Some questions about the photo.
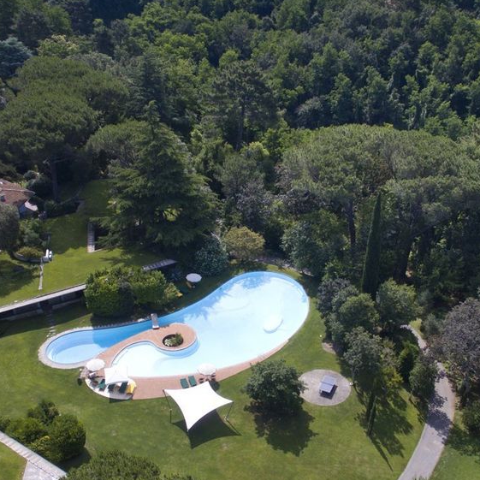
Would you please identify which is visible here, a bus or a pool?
pool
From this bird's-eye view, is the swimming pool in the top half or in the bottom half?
bottom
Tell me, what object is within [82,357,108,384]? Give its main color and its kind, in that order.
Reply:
white umbrella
